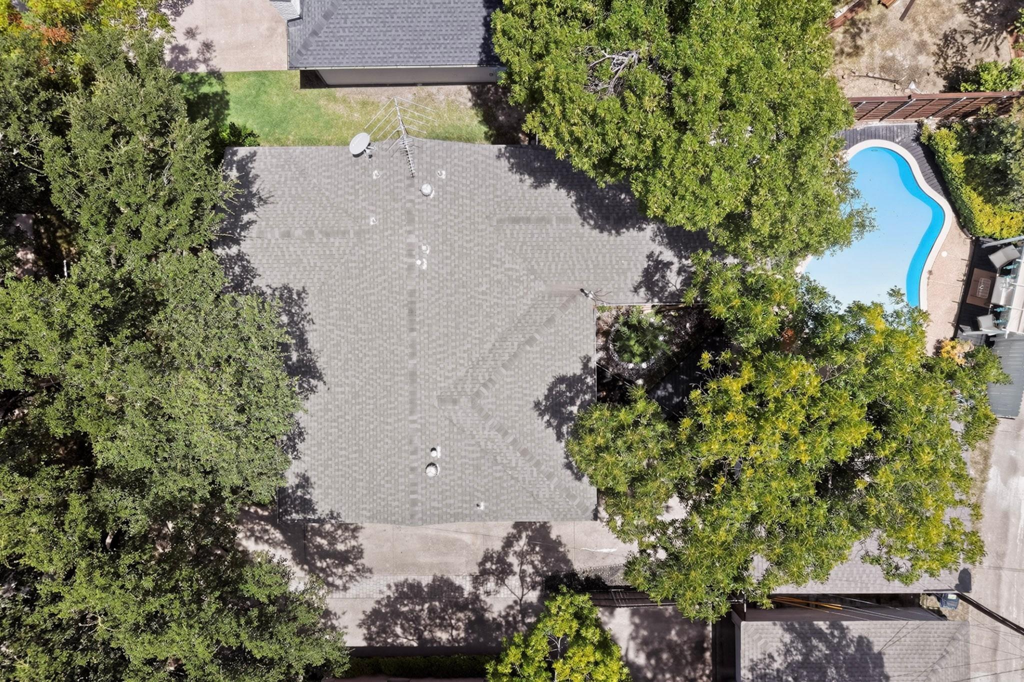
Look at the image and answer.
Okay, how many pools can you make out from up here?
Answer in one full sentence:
I count 1 pool.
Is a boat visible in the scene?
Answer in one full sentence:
No, no boat can be seen from above.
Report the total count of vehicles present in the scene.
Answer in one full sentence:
The photo contains no vehicles.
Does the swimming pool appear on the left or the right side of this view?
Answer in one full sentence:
It is on the right.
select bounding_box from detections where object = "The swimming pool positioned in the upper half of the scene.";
[788,137,954,370]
